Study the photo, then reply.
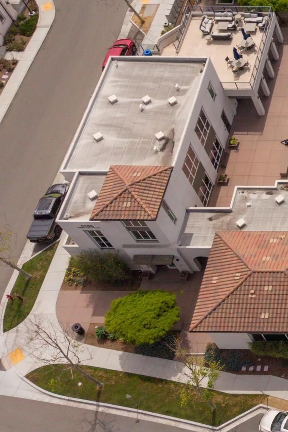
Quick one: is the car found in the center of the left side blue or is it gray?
gray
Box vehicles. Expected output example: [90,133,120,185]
[257,412,288,432]
[95,37,128,73]
[19,185,65,244]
